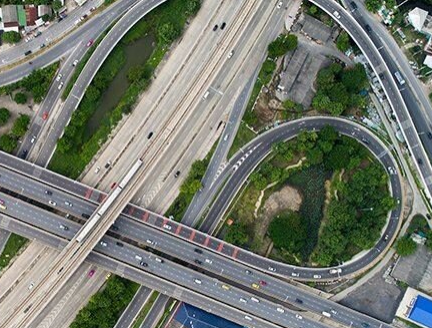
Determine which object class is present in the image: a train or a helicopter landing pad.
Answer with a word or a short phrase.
train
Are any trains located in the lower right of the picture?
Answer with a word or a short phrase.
No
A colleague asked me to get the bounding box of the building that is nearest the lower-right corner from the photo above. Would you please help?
[389,287,432,328]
